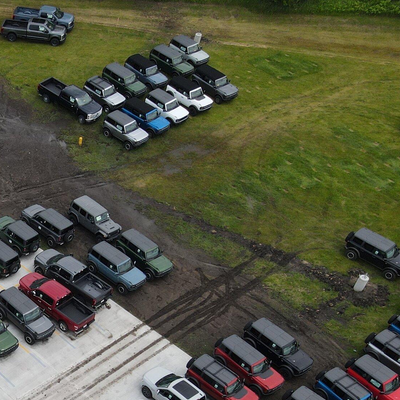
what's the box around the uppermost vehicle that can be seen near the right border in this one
[342,228,400,281]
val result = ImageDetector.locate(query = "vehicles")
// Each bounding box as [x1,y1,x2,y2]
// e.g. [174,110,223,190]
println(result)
[65,196,122,245]
[18,206,75,248]
[164,77,213,118]
[213,334,283,397]
[0,217,41,259]
[137,364,205,400]
[0,239,22,279]
[16,271,95,335]
[144,89,188,128]
[241,318,313,379]
[343,354,400,400]
[342,228,400,281]
[0,318,19,358]
[148,46,194,81]
[2,19,67,49]
[13,7,77,35]
[114,231,173,284]
[120,99,171,140]
[123,56,167,95]
[38,79,104,126]
[167,36,209,71]
[0,286,55,344]
[31,245,113,311]
[185,353,259,400]
[188,66,238,106]
[82,77,126,115]
[101,64,146,103]
[311,366,378,400]
[101,112,148,153]
[84,241,145,295]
